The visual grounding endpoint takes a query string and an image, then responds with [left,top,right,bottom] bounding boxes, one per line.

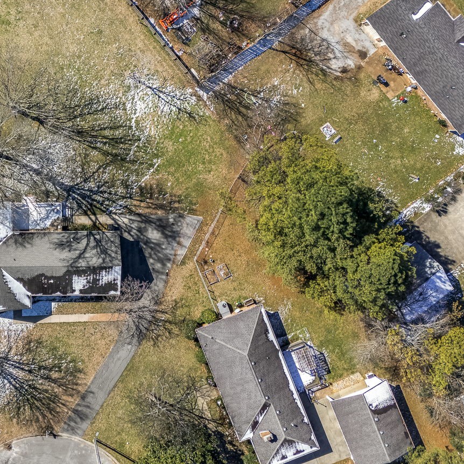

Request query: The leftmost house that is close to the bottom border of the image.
[195,304,320,464]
